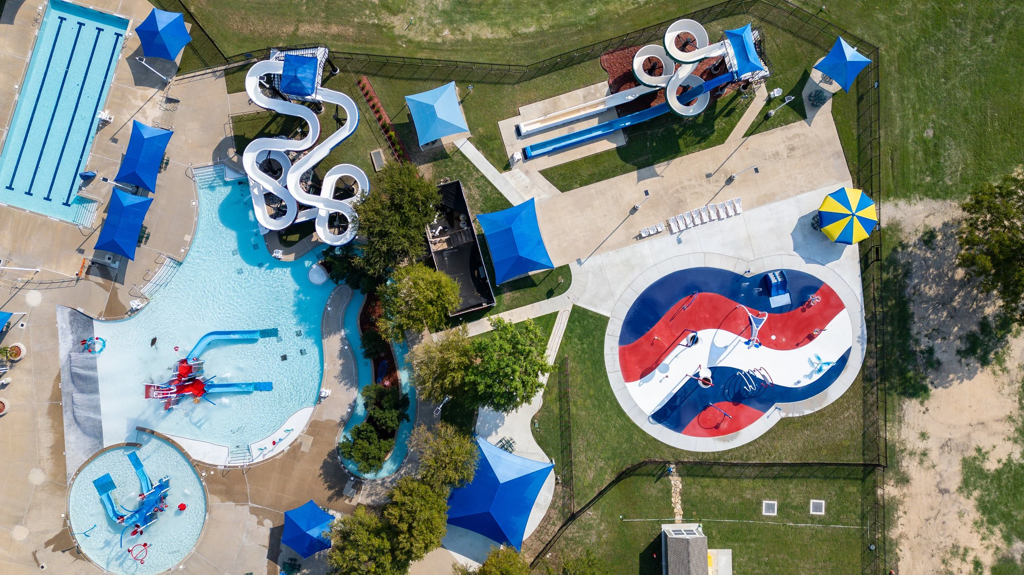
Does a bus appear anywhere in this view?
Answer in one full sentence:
No, there isn't any bus down there.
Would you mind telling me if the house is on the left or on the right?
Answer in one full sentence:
You can find the house on the right side of the picture.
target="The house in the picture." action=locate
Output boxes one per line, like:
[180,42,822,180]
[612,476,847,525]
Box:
[664,528,711,575]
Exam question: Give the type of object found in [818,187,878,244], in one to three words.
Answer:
umbrella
